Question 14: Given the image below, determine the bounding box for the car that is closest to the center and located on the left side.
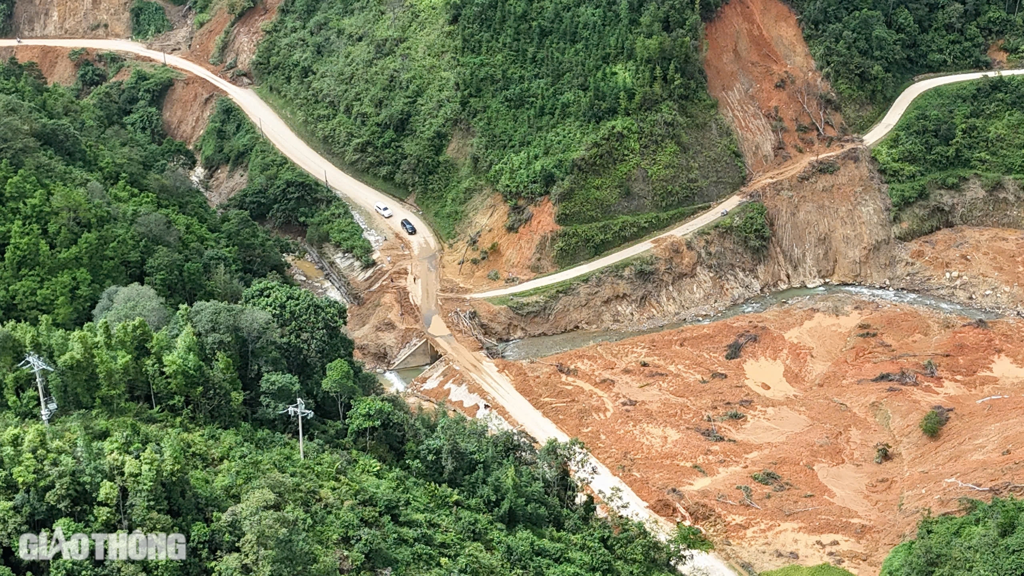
[402,219,415,232]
